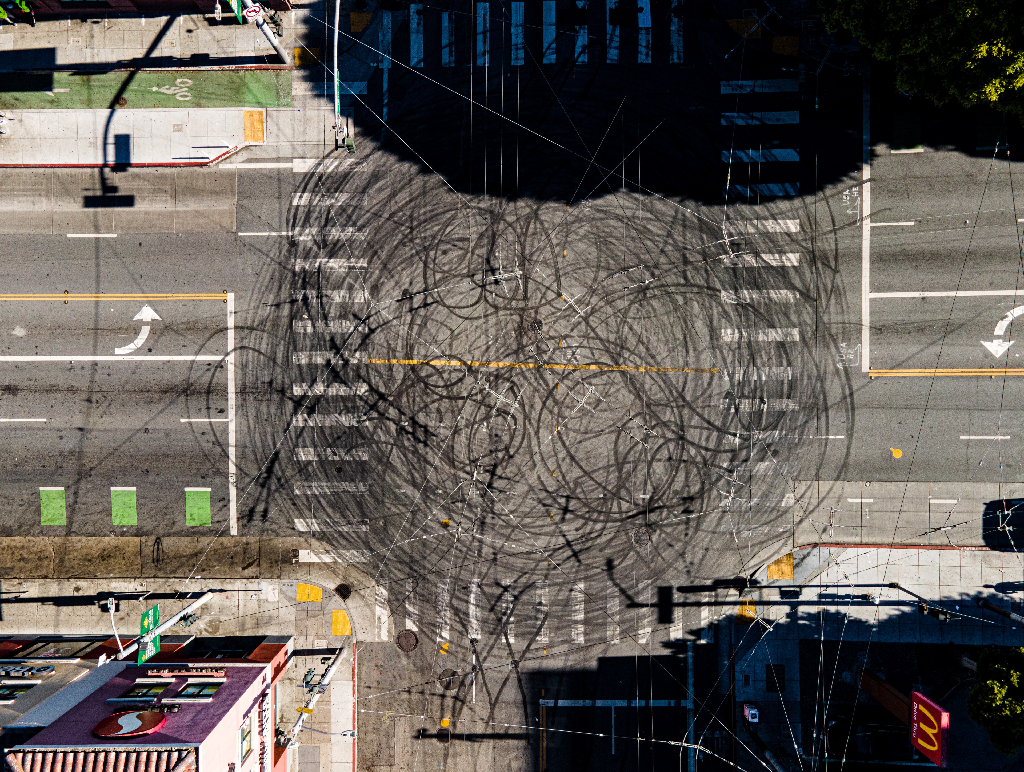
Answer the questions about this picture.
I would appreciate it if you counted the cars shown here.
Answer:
1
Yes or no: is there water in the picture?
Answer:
No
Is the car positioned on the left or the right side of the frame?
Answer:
right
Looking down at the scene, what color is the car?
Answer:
black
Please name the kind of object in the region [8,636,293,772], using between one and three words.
building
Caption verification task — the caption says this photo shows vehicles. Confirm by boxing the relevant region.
[822,717,914,765]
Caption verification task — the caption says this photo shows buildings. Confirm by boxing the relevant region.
[0,0,292,10]
[8,636,293,772]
